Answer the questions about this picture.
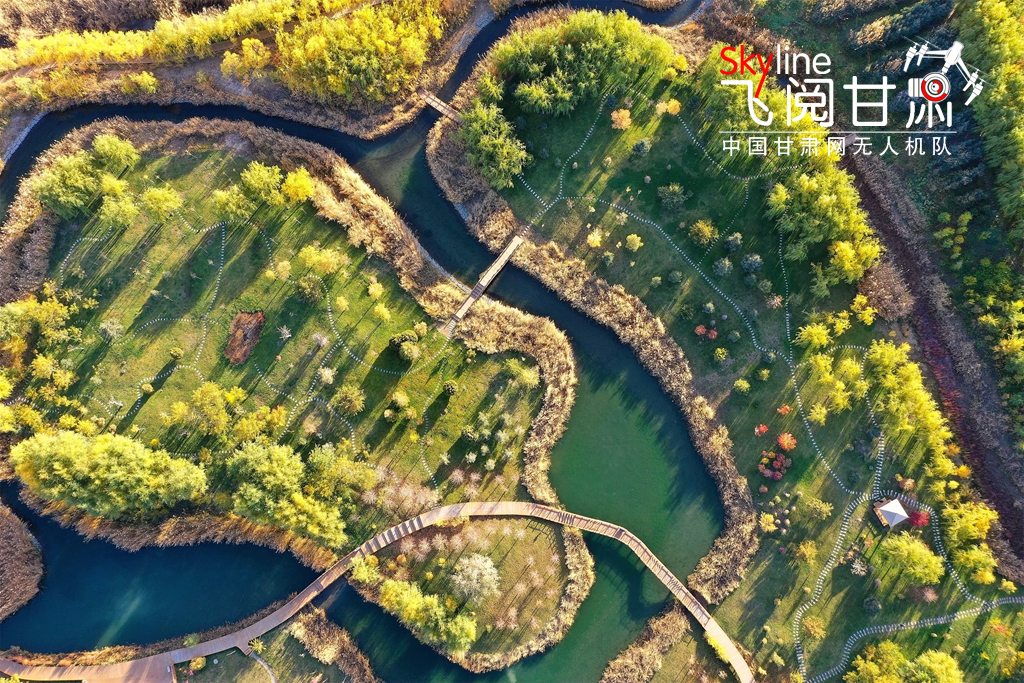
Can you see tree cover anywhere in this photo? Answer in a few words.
Yes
